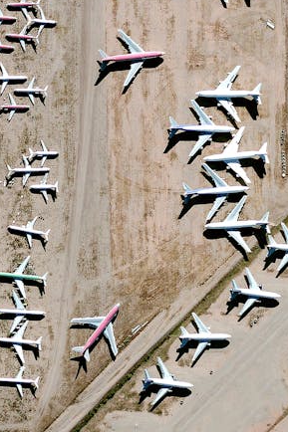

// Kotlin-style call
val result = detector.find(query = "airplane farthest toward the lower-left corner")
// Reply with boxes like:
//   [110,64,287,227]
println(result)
[0,366,38,397]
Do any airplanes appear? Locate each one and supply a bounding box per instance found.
[267,223,288,270]
[69,304,119,362]
[230,268,280,315]
[180,314,231,361]
[142,358,194,405]
[0,322,42,362]
[0,43,14,49]
[196,66,262,122]
[7,0,41,17]
[7,154,49,186]
[204,127,270,183]
[0,256,48,297]
[30,141,58,167]
[205,196,270,253]
[169,100,234,156]
[182,163,249,220]
[14,78,47,104]
[0,366,38,397]
[5,24,38,50]
[8,217,49,247]
[0,94,30,120]
[30,173,58,201]
[23,7,57,34]
[99,30,164,85]
[0,63,27,94]
[0,291,45,332]
[0,11,16,23]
